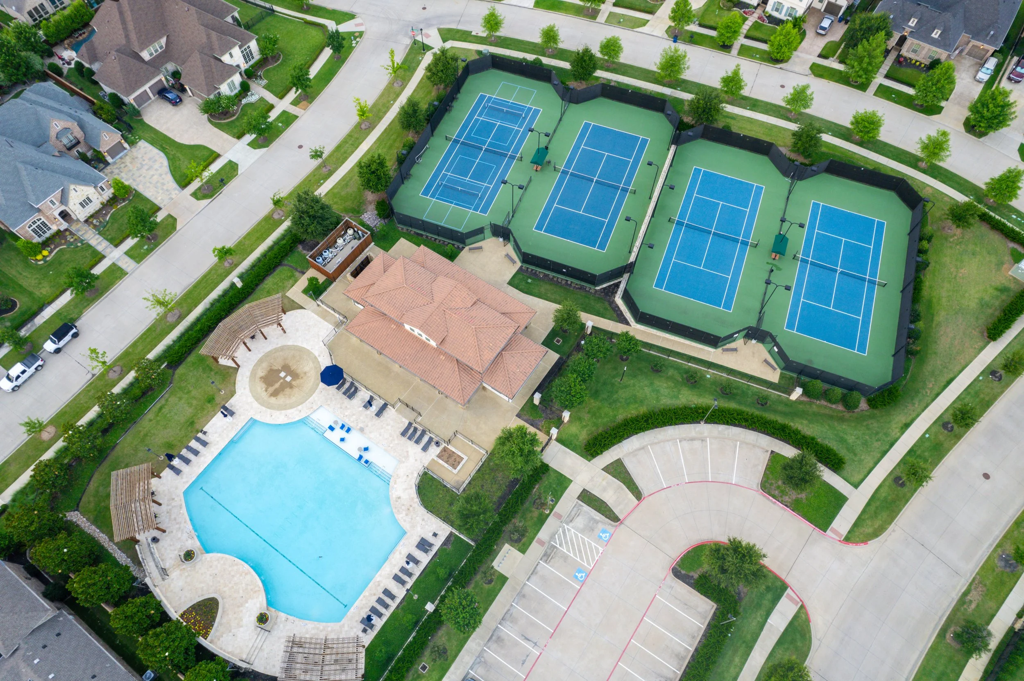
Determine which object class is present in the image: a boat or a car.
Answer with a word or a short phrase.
car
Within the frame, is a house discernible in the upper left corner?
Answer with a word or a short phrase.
Yes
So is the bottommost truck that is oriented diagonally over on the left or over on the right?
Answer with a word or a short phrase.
left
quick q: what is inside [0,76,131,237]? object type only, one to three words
house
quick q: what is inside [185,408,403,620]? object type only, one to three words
swimming pool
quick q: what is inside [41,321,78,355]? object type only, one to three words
car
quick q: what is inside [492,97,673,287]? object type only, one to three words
tennis court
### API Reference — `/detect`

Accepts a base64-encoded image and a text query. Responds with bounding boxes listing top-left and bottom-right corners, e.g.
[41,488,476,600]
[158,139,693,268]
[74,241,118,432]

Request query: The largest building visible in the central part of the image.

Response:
[343,243,549,406]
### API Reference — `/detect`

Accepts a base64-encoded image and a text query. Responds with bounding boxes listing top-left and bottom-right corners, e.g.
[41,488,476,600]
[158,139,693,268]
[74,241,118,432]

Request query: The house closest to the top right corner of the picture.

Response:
[869,0,1021,62]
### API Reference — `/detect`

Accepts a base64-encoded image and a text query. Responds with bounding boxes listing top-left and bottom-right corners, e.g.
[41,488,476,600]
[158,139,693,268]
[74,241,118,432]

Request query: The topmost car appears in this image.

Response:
[818,13,835,33]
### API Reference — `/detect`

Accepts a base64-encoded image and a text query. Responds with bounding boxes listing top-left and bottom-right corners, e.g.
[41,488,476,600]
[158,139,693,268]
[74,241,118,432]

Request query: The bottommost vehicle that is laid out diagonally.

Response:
[0,352,46,395]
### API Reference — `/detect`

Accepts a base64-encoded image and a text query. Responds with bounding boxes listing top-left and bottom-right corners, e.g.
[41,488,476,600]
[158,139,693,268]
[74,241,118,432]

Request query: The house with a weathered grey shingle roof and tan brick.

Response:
[0,557,142,681]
